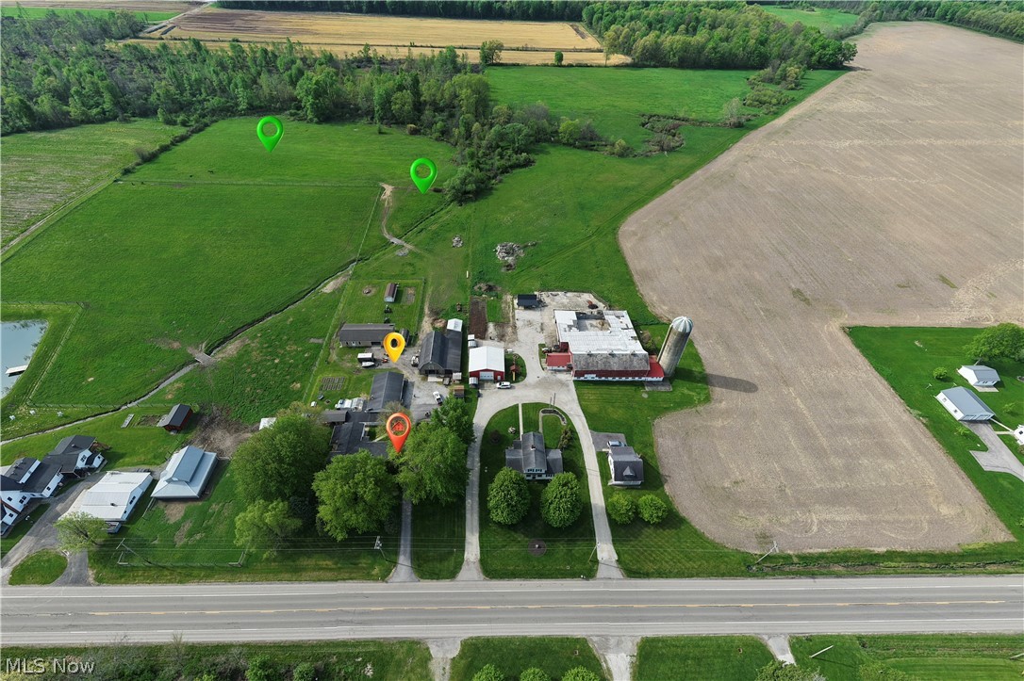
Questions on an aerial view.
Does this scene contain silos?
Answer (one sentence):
Yes, a silo can be made out from above.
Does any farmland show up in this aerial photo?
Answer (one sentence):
Yes, some farmland is visible.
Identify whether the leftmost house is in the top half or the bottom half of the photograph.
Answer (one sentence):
The bottom half of the photo is where the leftmost house is.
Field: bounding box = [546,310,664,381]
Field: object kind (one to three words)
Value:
barn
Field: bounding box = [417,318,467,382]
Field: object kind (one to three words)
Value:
barn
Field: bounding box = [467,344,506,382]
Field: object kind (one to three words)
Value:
building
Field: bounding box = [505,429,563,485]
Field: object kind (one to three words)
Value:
house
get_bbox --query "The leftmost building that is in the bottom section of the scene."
[0,432,111,517]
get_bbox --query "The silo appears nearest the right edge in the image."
[657,317,696,380]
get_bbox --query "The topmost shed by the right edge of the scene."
[960,360,1002,387]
